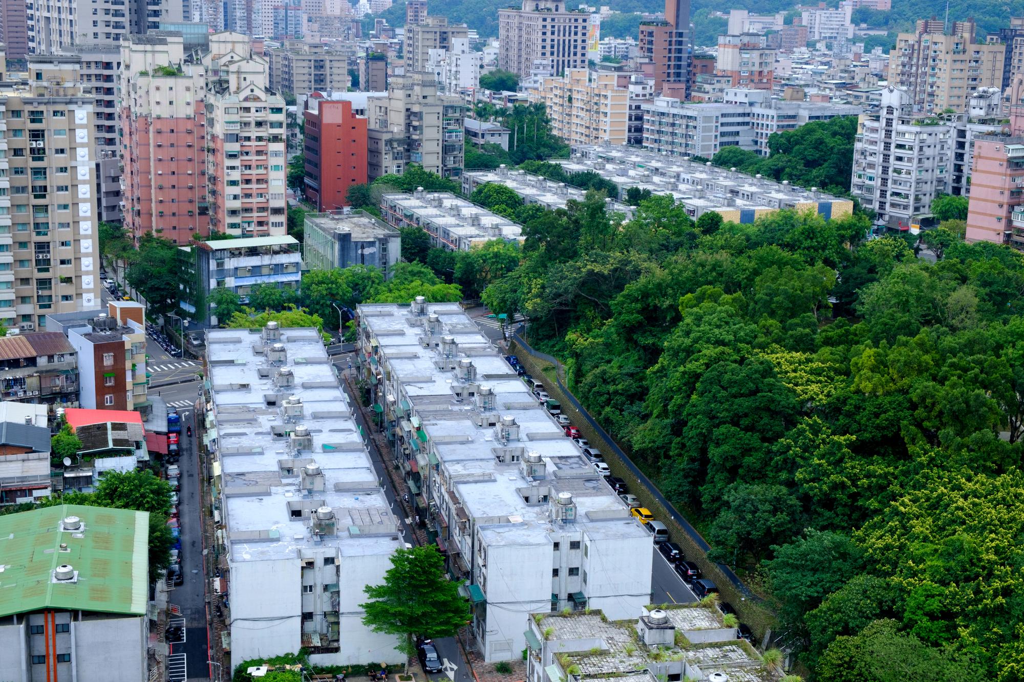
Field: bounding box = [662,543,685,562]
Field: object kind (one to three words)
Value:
car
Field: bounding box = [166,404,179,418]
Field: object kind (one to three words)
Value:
vehicle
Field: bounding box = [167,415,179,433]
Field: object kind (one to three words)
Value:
vehicle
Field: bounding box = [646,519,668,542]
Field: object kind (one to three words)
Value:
car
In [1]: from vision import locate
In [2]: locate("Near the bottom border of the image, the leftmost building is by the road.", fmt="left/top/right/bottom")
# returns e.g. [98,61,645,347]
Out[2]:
[0,499,149,682]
